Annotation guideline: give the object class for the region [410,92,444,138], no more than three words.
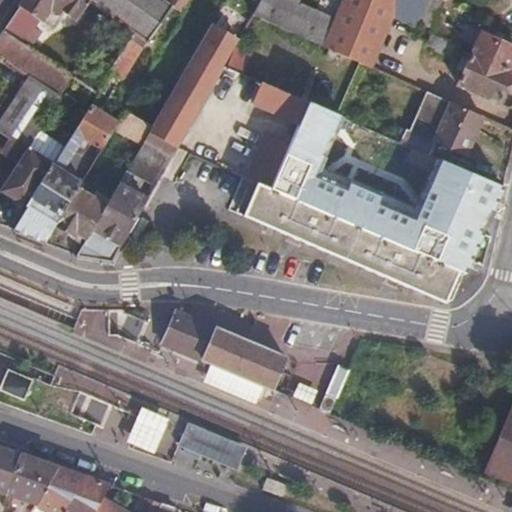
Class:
building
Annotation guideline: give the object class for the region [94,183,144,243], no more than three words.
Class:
house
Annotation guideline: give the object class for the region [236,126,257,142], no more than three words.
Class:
car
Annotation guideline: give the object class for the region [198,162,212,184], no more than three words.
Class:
car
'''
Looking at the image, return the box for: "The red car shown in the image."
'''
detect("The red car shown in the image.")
[286,256,298,278]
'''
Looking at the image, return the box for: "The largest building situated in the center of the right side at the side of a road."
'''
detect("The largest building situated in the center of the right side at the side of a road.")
[248,102,505,303]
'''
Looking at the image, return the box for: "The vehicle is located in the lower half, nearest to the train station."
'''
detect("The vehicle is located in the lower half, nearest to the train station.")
[285,324,300,346]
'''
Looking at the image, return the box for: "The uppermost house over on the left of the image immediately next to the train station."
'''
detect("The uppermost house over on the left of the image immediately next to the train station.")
[160,308,200,362]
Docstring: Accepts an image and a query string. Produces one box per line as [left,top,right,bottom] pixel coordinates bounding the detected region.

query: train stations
[202,326,287,391]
